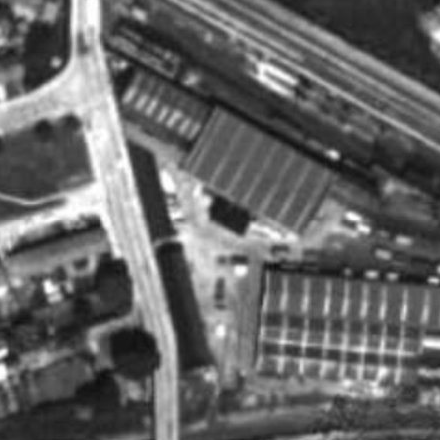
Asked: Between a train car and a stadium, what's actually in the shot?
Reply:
train car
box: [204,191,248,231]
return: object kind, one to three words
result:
shed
